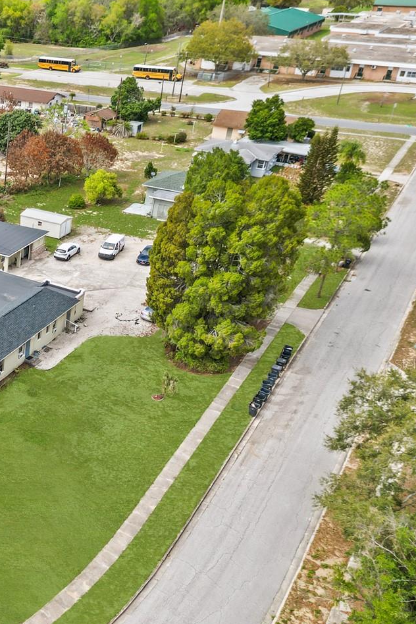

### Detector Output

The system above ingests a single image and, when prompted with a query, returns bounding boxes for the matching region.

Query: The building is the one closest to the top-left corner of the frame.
[0,80,69,109]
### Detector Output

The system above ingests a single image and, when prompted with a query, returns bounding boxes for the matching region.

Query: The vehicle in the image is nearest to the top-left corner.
[39,57,78,73]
